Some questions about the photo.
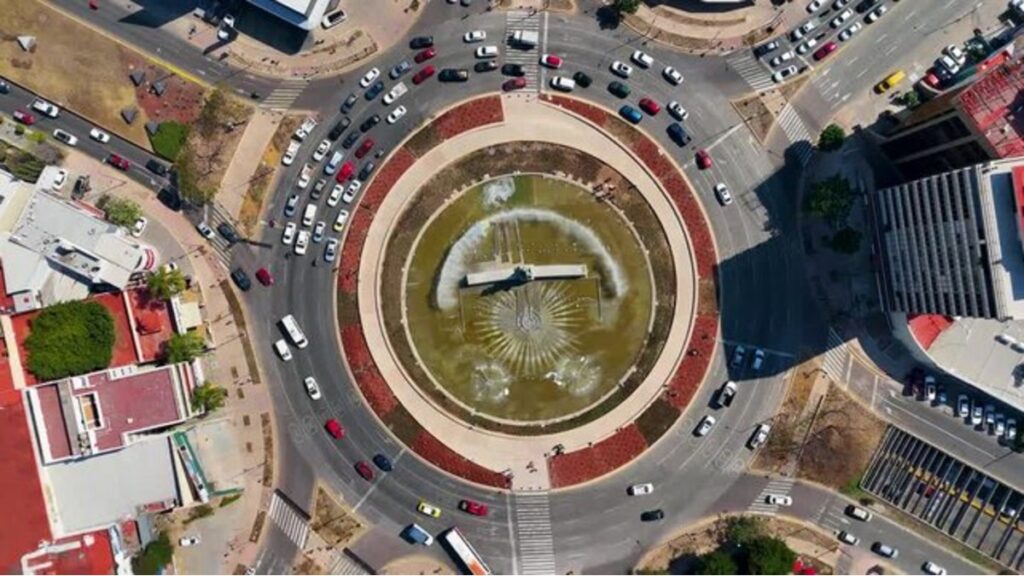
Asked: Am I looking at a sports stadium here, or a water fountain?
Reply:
water fountain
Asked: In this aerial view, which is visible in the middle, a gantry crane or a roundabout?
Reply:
roundabout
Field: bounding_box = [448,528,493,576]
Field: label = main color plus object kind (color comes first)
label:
white bus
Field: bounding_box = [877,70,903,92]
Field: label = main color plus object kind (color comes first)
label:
yellow truck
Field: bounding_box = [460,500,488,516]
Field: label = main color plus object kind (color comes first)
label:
red vehicle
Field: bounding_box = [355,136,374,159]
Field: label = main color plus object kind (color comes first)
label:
red car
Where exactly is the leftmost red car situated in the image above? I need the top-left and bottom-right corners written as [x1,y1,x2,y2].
[12,108,36,126]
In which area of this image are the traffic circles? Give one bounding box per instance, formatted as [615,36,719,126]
[264,29,791,554]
